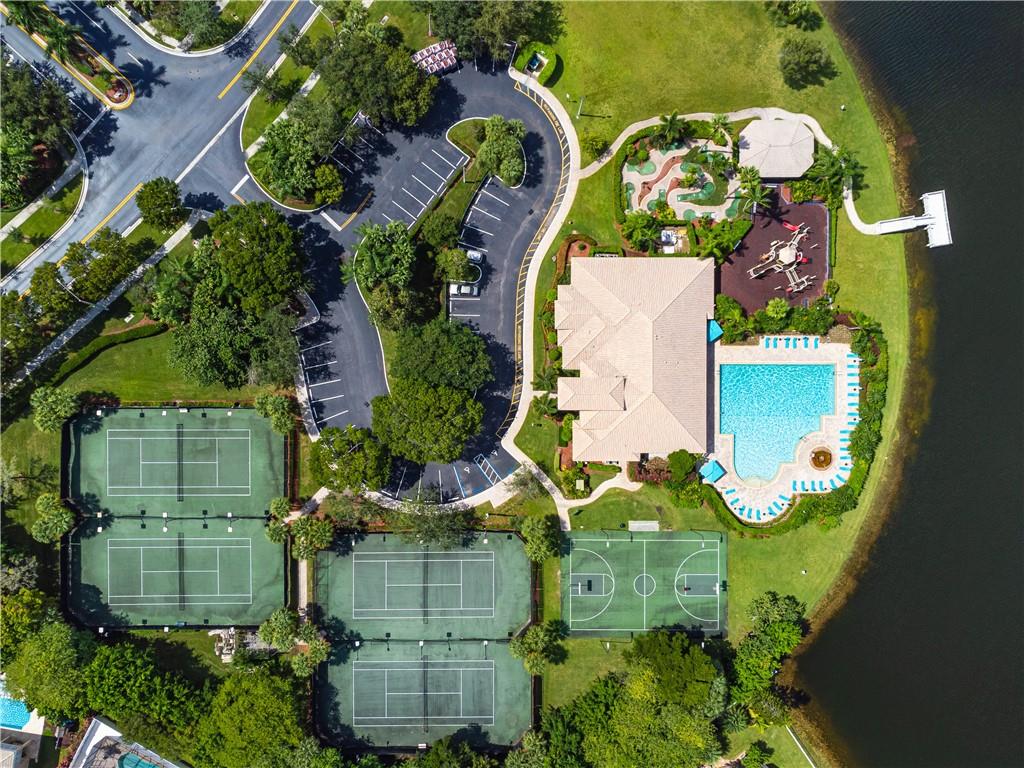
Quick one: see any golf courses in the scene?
Yes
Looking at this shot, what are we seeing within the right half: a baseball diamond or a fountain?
fountain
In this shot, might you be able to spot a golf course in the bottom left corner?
No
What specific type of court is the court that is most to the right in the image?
basketball court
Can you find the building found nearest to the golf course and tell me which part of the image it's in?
top right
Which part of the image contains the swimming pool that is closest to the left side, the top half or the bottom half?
bottom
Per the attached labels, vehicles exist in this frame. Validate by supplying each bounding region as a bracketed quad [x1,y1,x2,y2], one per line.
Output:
[456,247,483,264]
[450,284,479,296]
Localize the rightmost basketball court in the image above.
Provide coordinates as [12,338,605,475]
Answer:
[561,531,728,638]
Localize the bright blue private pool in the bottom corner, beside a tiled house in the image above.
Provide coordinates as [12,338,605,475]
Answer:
[0,695,32,733]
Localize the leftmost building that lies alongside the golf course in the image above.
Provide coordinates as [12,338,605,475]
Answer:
[555,257,715,467]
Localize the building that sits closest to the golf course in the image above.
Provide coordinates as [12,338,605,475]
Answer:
[735,120,814,181]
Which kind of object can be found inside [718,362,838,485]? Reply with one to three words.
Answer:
swimming pool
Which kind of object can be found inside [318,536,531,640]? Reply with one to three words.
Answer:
tennis court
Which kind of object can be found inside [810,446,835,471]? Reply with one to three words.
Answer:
fountain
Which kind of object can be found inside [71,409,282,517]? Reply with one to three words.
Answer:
tennis court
